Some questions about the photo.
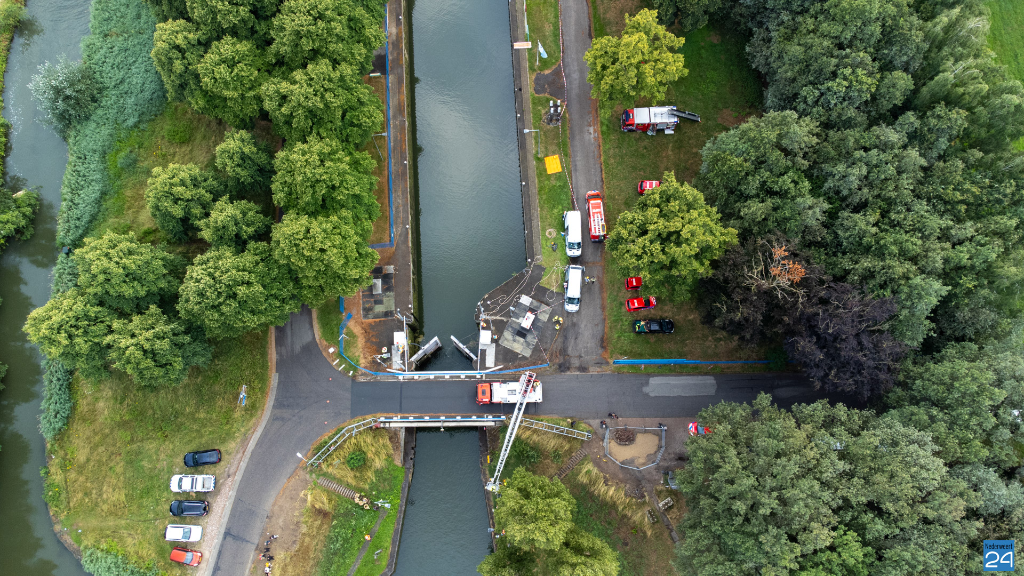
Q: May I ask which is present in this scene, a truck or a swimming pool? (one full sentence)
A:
It is a truck that can be seen here.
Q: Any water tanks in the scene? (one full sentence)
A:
No, no water tank is visible in the view.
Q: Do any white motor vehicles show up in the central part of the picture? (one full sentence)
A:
Yes, a white motor vehicle appears in the central part of the picture.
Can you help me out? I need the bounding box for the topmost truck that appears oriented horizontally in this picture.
[619,111,700,142]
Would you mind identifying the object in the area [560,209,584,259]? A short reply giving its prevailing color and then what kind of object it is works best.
white vehicle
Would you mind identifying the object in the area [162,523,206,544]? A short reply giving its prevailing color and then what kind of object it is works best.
white car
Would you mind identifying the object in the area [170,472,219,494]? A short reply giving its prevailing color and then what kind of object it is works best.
white truck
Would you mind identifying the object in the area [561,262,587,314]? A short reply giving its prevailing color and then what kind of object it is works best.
white vehicle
